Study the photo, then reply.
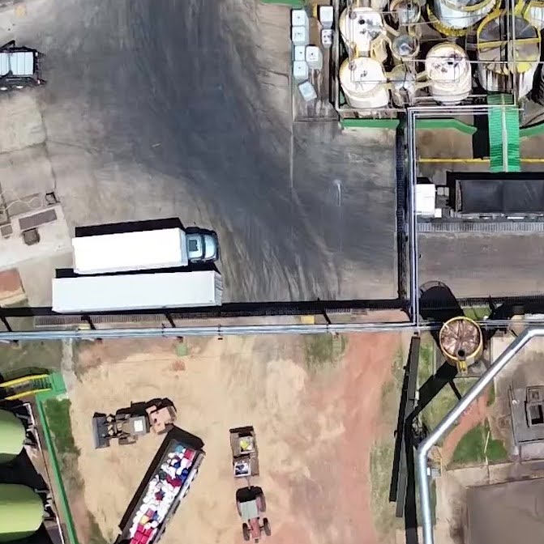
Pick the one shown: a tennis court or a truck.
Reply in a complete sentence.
There is a truck in the scene.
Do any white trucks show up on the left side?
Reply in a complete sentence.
Yes, a white truck can be seen on the left side.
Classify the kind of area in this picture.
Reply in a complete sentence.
The area seen from above is an industrial area.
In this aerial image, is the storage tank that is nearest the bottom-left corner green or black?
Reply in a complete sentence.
In this view, the storage tank that is nearest the bottom-left corner is green.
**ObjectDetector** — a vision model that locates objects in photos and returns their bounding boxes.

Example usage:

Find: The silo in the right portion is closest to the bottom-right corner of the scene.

[437,314,498,387]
